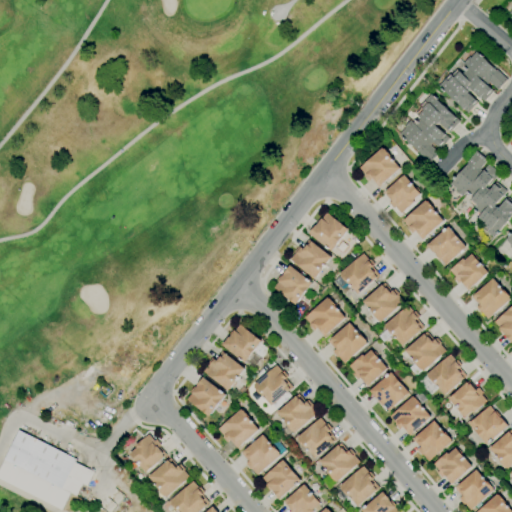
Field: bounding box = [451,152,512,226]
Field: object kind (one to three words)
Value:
building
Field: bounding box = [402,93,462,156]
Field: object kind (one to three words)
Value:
building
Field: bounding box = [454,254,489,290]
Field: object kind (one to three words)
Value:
house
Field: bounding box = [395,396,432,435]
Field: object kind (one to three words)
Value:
house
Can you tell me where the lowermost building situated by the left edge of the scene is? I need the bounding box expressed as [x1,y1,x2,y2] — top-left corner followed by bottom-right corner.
[0,430,94,511]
